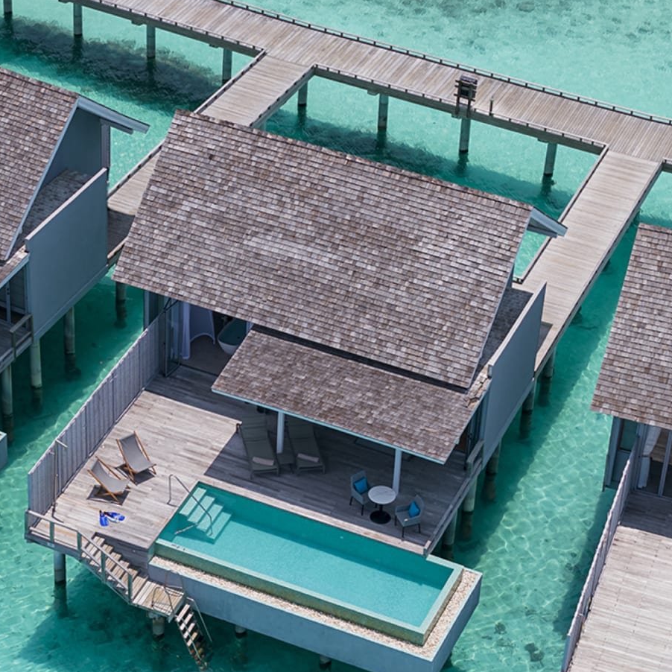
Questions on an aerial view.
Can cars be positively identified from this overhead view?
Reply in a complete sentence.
No, there's no car here.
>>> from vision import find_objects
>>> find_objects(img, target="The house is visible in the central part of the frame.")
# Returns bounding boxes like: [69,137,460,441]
[21,107,573,635]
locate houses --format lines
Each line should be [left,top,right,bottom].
[0,66,150,464]
[21,107,573,635]
[567,221,672,672]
